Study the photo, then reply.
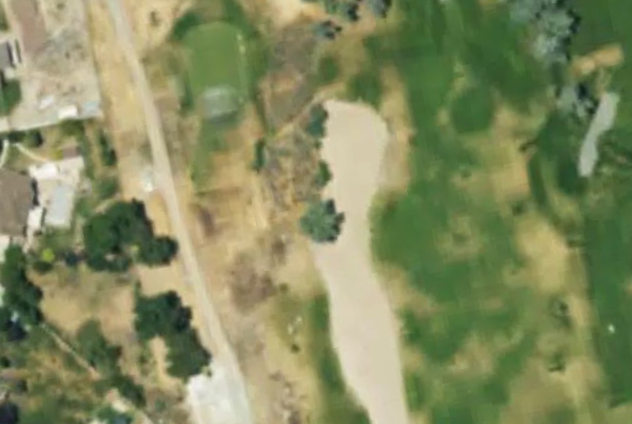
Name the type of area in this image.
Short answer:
golf course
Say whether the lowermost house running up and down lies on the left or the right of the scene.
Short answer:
left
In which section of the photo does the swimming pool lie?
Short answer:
left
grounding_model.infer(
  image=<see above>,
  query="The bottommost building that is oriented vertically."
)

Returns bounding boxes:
[0,168,34,240]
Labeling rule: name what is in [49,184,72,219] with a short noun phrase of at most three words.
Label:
swimming pool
